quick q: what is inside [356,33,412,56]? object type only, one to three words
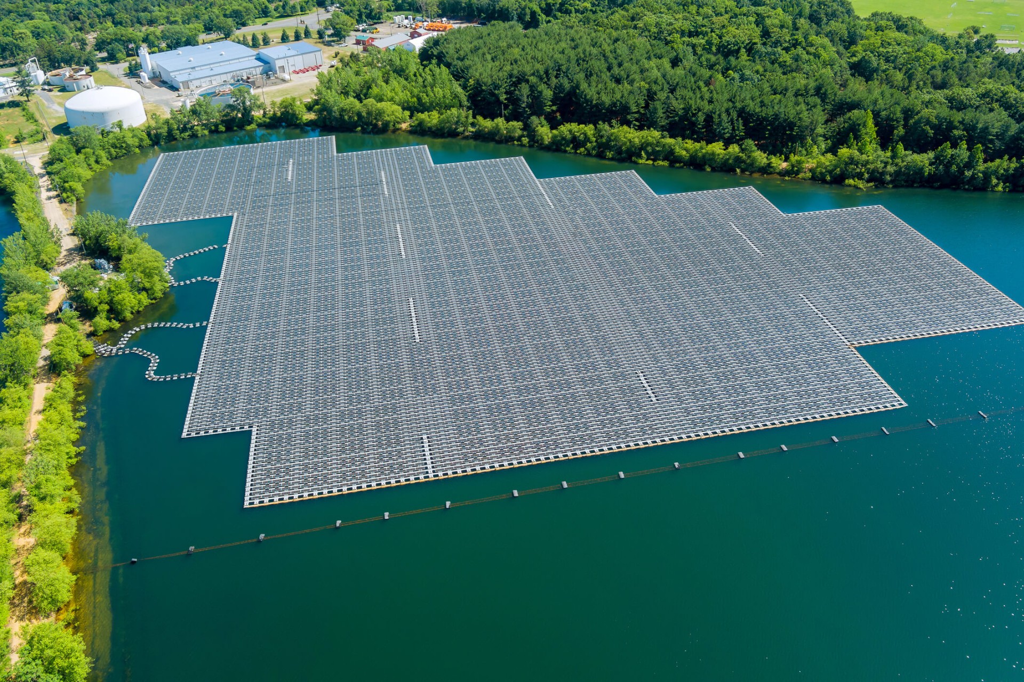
barn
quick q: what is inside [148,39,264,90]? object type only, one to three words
building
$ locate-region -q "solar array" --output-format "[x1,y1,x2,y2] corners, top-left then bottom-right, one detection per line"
[129,136,1024,509]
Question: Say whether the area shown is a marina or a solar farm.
solar farm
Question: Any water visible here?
Yes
